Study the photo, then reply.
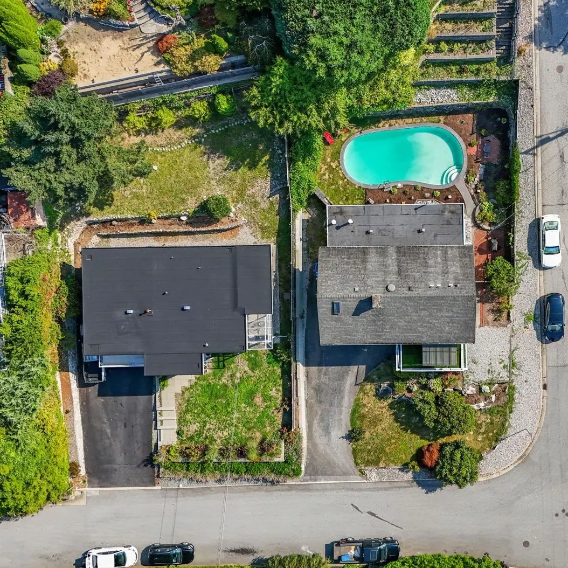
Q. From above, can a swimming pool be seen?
Yes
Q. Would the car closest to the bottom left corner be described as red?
No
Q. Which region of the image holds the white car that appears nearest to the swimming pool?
right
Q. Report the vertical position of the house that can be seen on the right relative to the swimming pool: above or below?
below it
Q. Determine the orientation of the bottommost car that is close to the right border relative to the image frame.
up and down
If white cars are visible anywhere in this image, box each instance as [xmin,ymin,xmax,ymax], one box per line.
[539,213,564,269]
[87,543,139,568]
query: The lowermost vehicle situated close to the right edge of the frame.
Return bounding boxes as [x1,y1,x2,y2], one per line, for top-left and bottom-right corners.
[541,293,566,343]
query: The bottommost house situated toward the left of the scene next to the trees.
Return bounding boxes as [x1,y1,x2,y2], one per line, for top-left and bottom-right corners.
[83,245,277,376]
